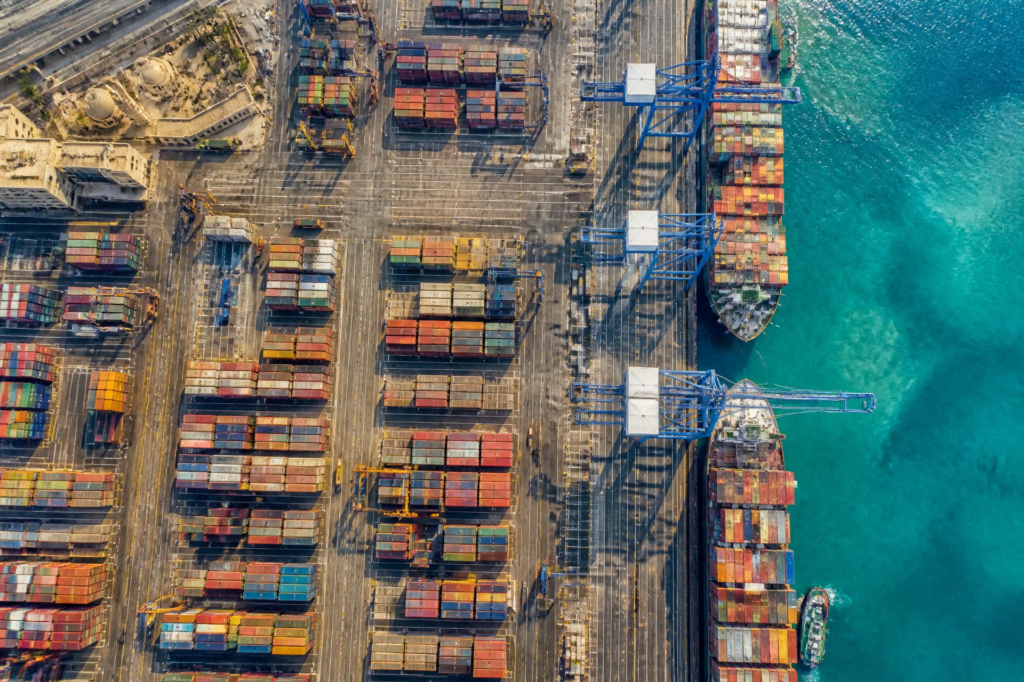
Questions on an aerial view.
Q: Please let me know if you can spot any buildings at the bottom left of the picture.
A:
No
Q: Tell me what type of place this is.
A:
port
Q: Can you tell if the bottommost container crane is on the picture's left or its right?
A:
left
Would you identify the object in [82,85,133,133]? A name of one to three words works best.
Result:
building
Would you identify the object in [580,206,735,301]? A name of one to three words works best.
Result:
container crane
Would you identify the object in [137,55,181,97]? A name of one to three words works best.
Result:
building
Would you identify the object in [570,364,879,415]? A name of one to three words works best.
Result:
container crane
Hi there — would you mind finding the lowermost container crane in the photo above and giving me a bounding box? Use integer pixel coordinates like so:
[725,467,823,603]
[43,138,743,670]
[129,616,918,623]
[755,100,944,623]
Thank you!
[135,576,206,626]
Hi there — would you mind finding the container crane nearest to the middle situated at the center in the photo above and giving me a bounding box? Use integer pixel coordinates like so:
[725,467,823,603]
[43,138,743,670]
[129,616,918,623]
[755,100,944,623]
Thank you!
[489,261,550,308]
